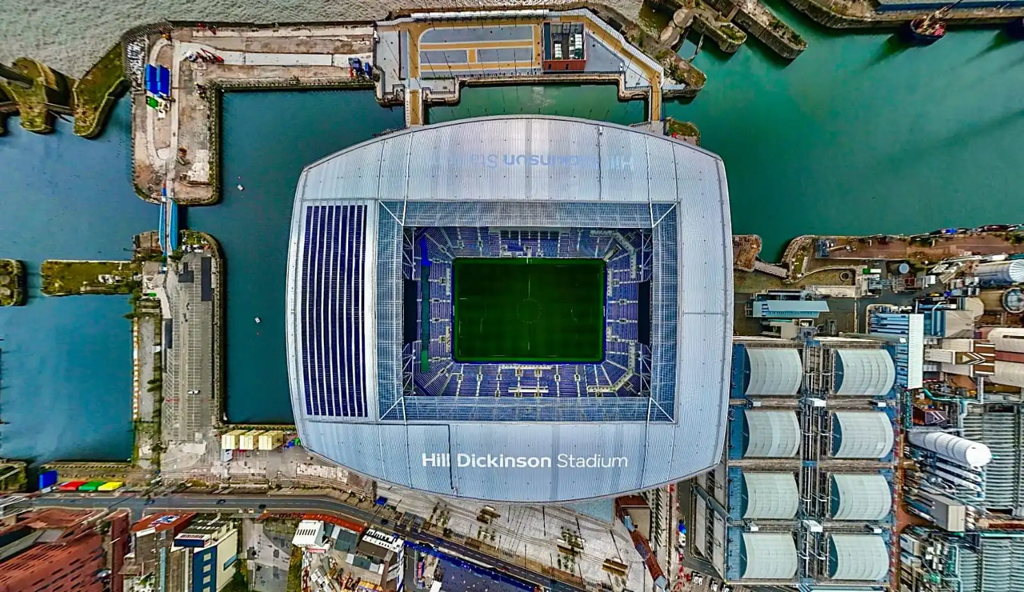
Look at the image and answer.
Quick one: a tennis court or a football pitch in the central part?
football pitch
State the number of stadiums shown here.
1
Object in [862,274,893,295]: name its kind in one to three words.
building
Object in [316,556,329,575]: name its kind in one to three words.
vehicle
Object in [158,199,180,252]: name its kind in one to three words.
bridge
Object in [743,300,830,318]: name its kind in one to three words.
shed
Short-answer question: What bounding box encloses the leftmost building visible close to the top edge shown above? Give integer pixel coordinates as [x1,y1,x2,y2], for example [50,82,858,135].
[542,19,587,70]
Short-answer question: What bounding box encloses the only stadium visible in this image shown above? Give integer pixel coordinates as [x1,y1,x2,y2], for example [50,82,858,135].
[286,115,733,504]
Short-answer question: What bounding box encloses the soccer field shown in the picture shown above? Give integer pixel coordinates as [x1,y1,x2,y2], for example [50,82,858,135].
[451,259,606,365]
